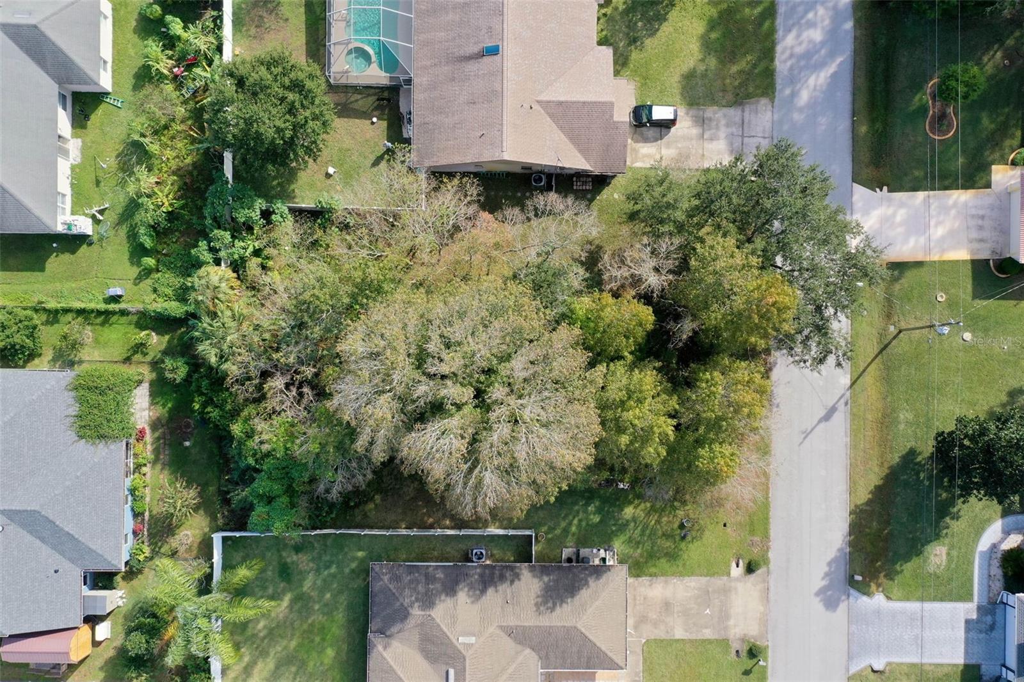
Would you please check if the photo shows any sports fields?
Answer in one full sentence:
No, I can't see a single sports field in this photo.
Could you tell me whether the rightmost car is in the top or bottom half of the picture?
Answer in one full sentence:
It is in the top half that the rightmost car appears.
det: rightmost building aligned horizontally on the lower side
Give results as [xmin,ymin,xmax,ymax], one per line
[367,562,629,682]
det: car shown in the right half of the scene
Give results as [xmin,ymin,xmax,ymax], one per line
[629,102,678,129]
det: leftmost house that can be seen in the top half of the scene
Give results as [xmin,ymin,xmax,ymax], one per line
[0,0,112,234]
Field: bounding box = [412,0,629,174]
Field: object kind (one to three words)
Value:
house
